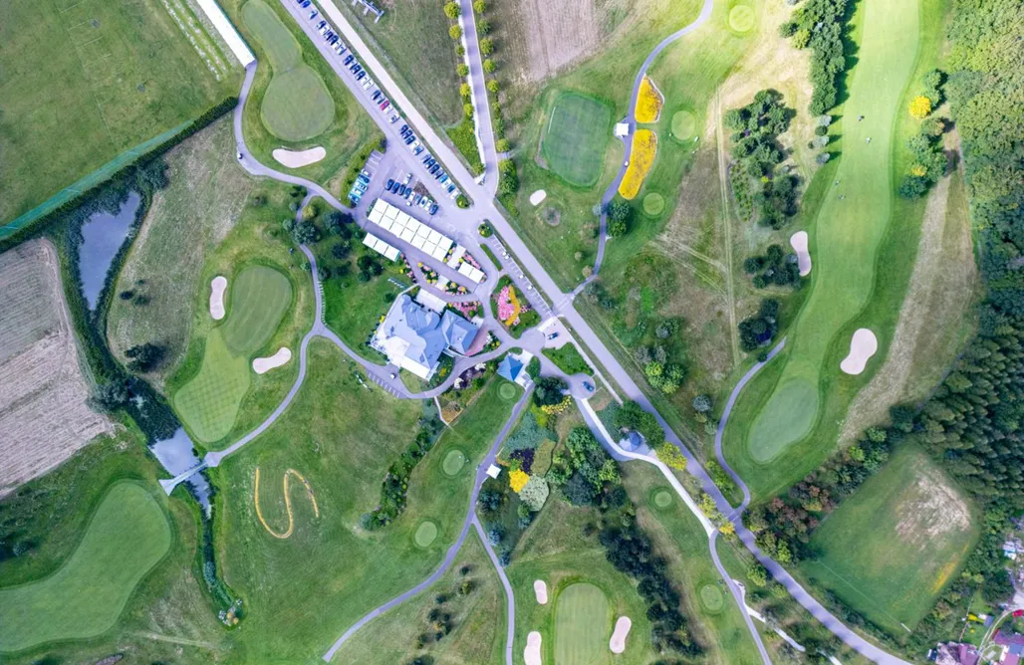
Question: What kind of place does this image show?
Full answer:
This looks like a golf course.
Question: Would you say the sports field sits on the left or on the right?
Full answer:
You can find the sports field on the right side of the picture.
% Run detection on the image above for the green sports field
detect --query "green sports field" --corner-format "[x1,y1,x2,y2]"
[809,443,978,634]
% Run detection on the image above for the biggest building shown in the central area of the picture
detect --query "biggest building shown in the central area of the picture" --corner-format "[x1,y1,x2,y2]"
[369,284,478,382]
